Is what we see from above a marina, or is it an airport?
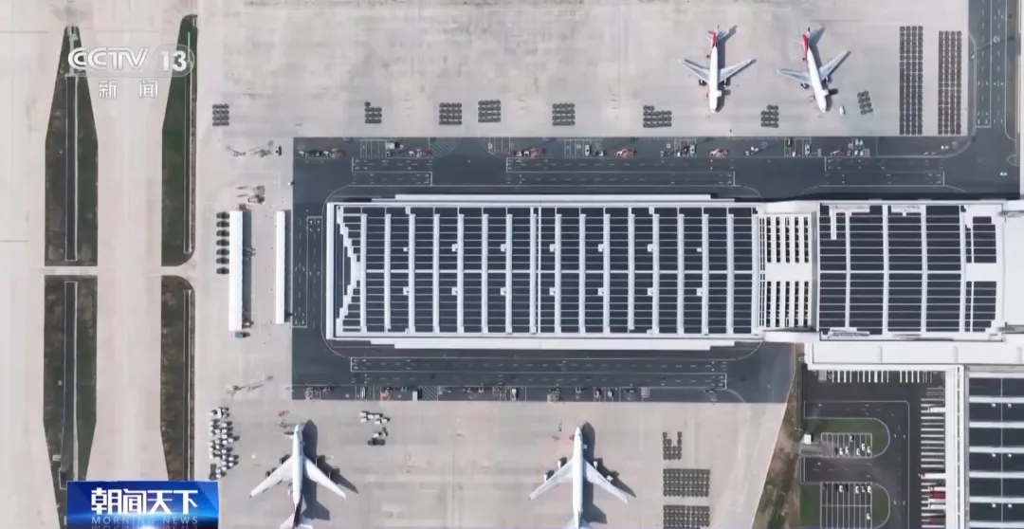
airport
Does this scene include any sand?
No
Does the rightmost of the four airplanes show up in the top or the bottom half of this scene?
top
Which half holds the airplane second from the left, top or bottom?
bottom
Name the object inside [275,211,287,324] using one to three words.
shed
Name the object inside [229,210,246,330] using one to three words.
shed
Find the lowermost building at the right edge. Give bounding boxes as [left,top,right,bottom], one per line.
[937,366,1024,529]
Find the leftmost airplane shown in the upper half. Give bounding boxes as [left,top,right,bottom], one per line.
[679,27,750,112]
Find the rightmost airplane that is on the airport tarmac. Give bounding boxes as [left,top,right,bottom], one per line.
[778,29,848,112]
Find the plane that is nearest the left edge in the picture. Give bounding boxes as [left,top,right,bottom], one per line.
[248,423,345,529]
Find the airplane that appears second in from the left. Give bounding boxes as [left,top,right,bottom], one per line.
[530,425,627,529]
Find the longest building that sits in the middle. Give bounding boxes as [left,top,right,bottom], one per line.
[327,195,765,349]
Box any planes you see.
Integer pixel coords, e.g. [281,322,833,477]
[248,423,345,529]
[679,27,750,112]
[530,425,627,529]
[778,29,848,112]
